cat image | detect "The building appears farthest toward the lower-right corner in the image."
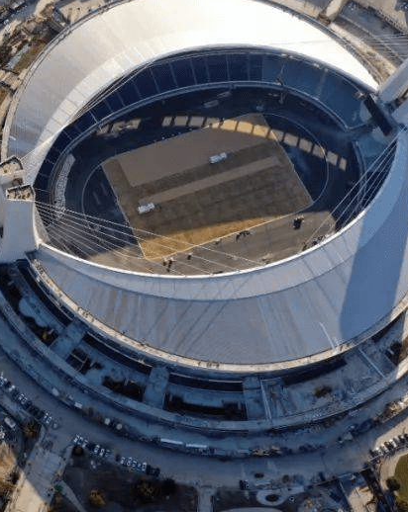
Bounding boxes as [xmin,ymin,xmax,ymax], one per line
[336,473,378,512]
